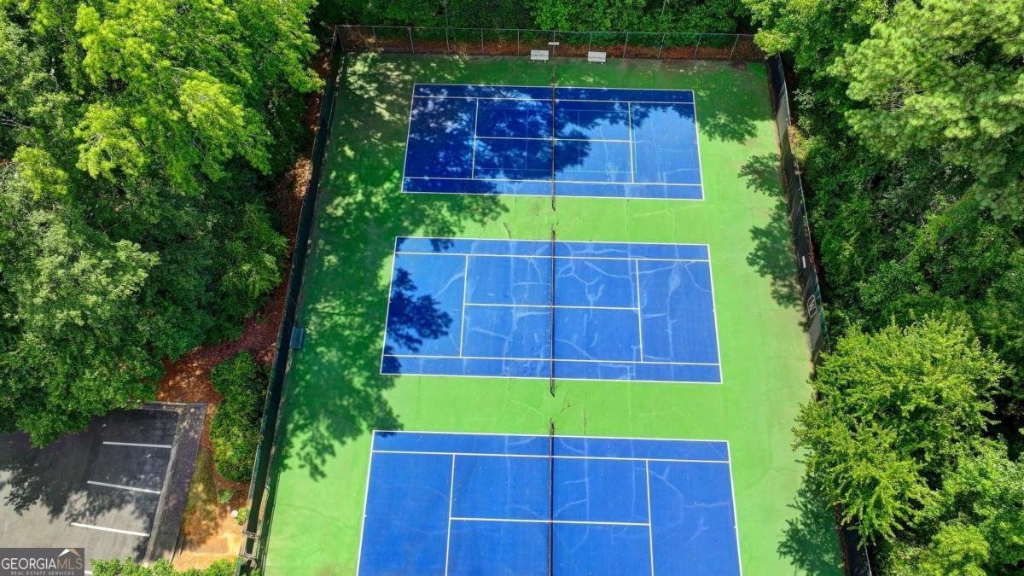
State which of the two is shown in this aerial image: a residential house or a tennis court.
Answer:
tennis court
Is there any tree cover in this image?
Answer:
Yes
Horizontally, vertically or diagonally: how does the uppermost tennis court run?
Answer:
horizontally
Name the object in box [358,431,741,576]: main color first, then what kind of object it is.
blue tennis court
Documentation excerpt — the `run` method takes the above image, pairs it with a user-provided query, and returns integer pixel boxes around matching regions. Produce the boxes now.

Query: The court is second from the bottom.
[381,237,722,383]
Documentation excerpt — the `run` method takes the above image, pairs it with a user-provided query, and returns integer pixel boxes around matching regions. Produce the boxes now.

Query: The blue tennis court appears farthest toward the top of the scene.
[402,84,703,199]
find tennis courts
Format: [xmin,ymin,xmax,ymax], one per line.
[358,431,741,576]
[381,237,722,383]
[402,84,703,199]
